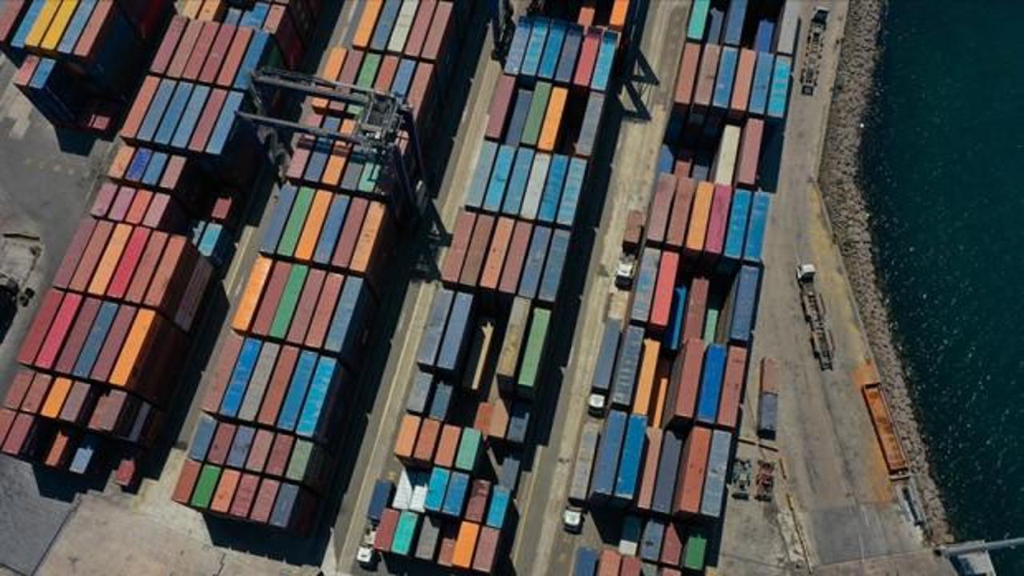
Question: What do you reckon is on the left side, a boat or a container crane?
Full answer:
There is a container crane on the left side.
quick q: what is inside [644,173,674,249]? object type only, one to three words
shipping container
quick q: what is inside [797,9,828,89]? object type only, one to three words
truck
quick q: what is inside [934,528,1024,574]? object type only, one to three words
pier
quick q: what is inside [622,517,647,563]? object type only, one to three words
shipping container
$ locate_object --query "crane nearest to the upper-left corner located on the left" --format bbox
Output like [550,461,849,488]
[234,62,438,225]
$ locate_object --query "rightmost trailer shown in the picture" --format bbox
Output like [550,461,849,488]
[860,378,906,481]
